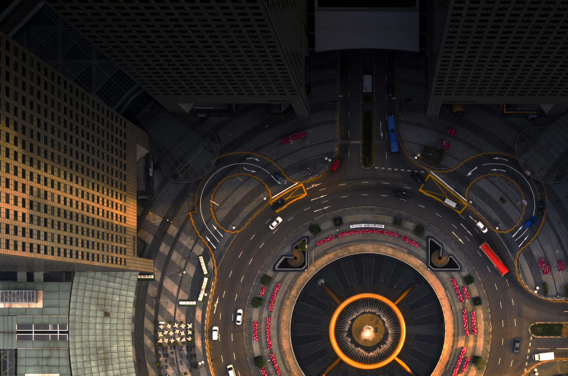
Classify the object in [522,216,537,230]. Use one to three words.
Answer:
vehicle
